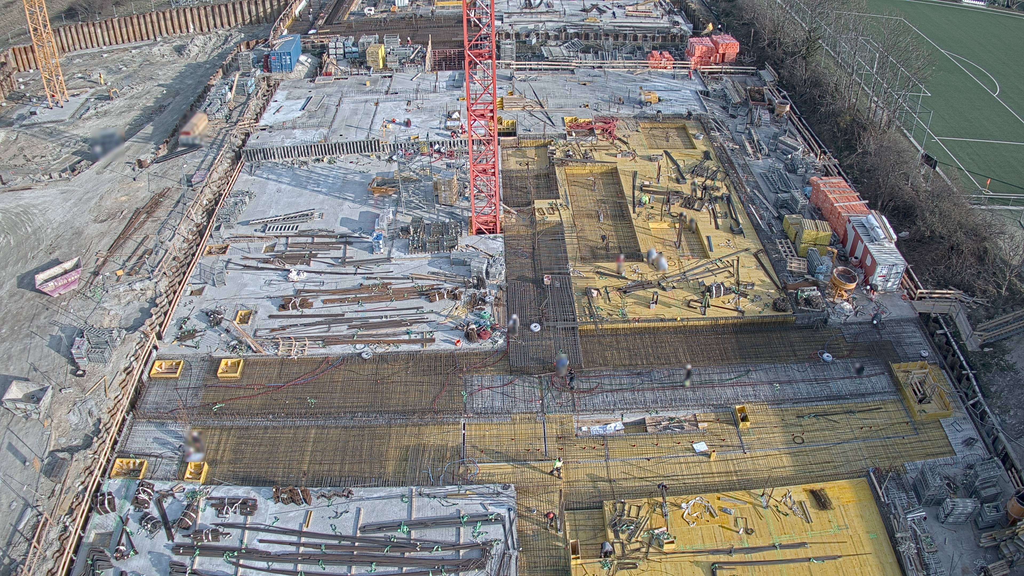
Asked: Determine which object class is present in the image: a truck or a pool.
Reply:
truck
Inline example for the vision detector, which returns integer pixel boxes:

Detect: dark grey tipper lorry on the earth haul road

[80,122,129,158]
